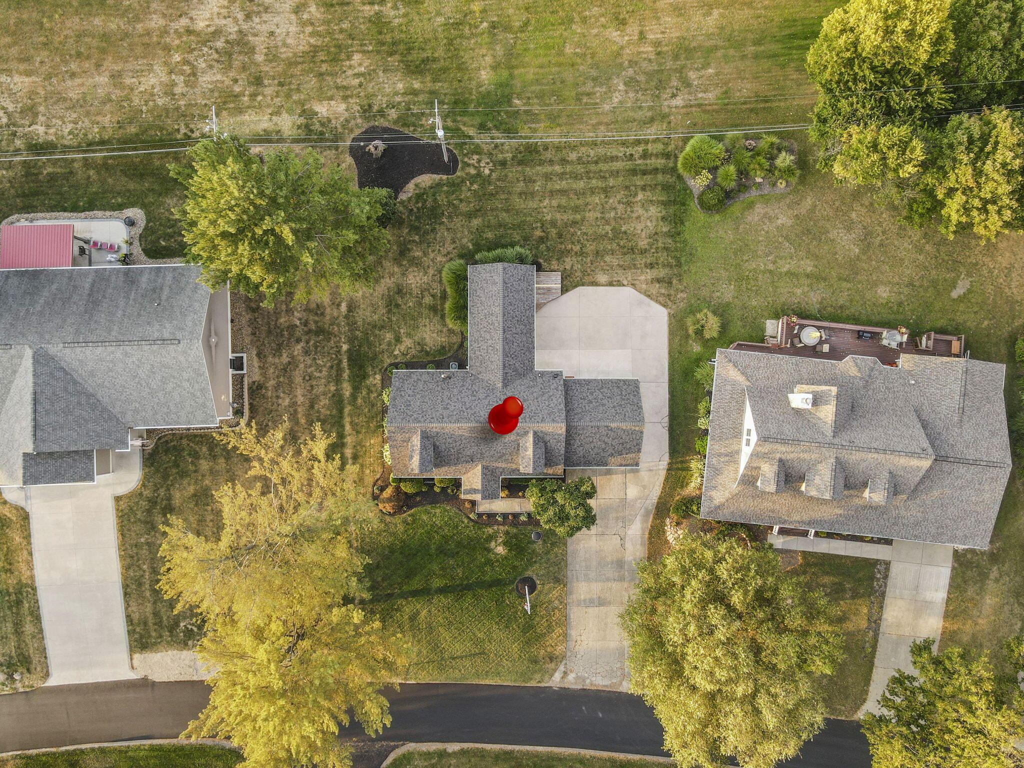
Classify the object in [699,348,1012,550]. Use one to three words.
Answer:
house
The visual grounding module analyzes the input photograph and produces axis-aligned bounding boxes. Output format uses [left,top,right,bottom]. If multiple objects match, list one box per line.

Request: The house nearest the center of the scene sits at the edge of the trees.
[386,262,644,501]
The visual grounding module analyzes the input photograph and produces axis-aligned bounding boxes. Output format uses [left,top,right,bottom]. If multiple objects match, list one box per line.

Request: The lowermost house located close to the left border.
[0,263,248,489]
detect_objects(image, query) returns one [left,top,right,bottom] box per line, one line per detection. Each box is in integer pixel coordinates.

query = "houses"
[0,263,248,489]
[699,348,1012,550]
[386,262,644,501]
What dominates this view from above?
grass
